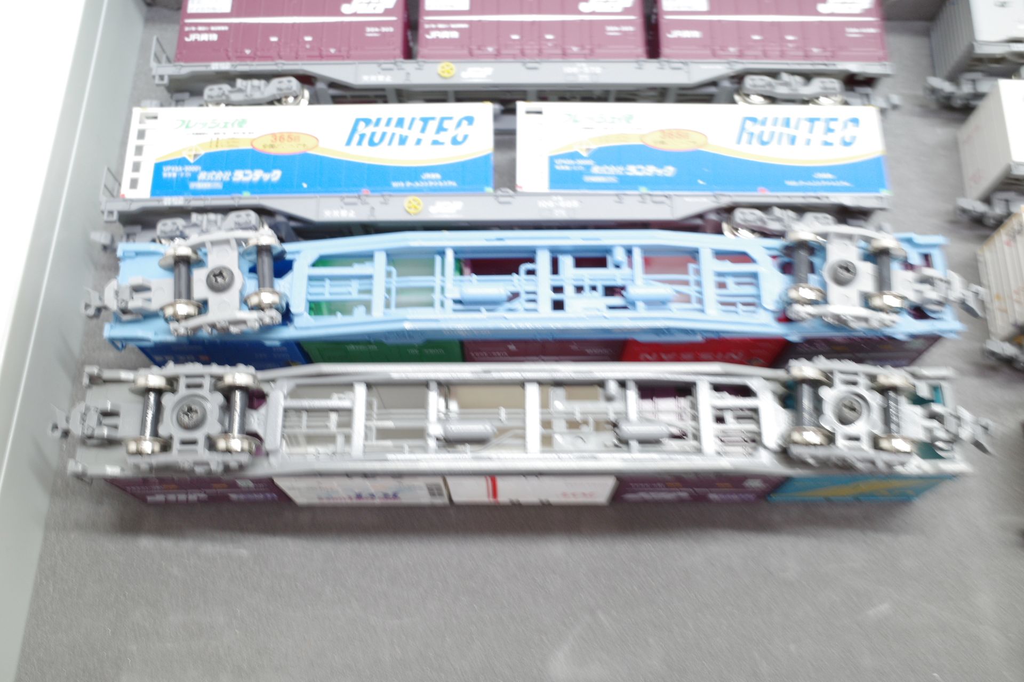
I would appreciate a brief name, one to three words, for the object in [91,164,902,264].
rail car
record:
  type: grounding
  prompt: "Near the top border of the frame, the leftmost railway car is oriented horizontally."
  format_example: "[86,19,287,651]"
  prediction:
[145,34,905,137]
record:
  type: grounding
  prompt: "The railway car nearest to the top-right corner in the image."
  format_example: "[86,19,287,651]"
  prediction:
[926,37,1024,111]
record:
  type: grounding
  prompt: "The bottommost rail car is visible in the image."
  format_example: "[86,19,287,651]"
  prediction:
[42,356,997,492]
